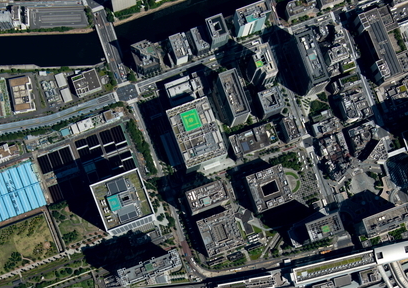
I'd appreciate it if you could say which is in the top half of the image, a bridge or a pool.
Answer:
bridge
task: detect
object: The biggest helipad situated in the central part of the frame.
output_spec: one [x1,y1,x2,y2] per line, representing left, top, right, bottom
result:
[180,108,203,132]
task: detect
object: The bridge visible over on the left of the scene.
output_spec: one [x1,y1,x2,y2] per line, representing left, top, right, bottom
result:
[92,2,134,96]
